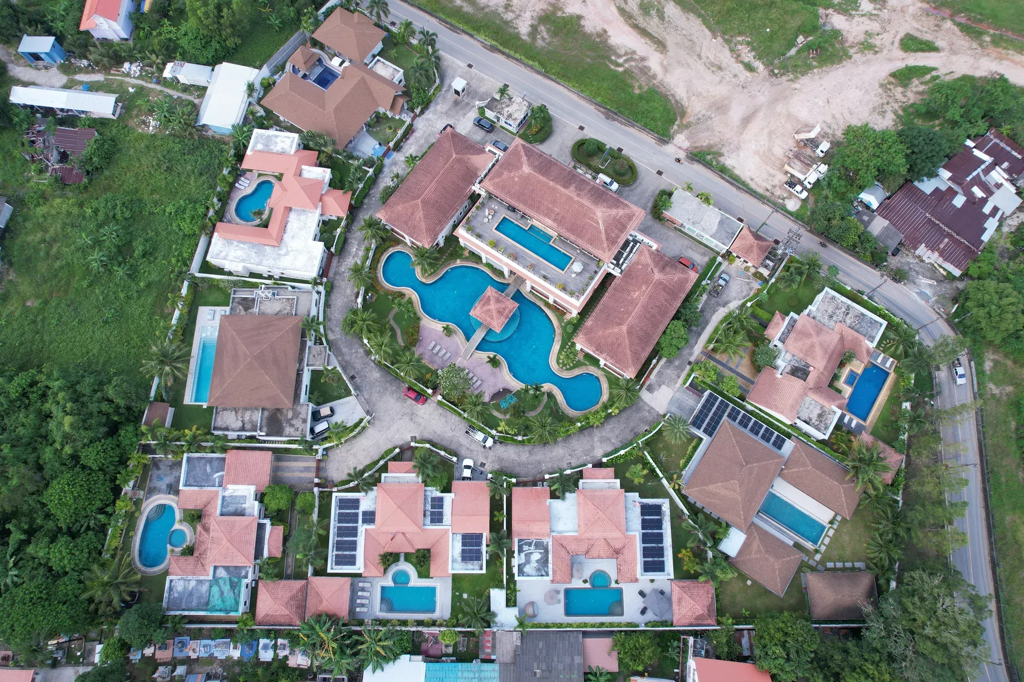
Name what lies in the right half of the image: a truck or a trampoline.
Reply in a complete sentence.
There is a truck in the right half of the image.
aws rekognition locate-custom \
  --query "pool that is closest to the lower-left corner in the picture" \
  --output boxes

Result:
[129,496,191,577]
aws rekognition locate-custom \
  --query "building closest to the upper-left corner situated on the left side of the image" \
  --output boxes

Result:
[18,36,66,65]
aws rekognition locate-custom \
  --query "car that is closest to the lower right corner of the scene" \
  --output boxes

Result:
[949,359,967,385]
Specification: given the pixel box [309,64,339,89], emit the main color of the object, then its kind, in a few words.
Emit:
blue swimming pool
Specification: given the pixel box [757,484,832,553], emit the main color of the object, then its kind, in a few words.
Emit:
blue swimming pool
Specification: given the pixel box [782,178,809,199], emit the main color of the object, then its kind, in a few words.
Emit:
white car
